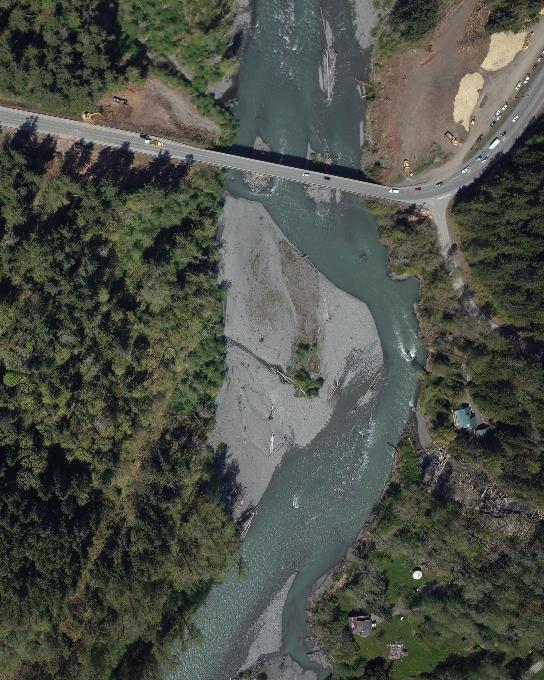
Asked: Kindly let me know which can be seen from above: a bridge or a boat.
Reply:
bridge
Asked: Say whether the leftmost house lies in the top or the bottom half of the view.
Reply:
bottom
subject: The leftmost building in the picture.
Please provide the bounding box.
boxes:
[349,610,374,637]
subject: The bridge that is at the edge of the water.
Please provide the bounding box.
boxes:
[212,150,384,199]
